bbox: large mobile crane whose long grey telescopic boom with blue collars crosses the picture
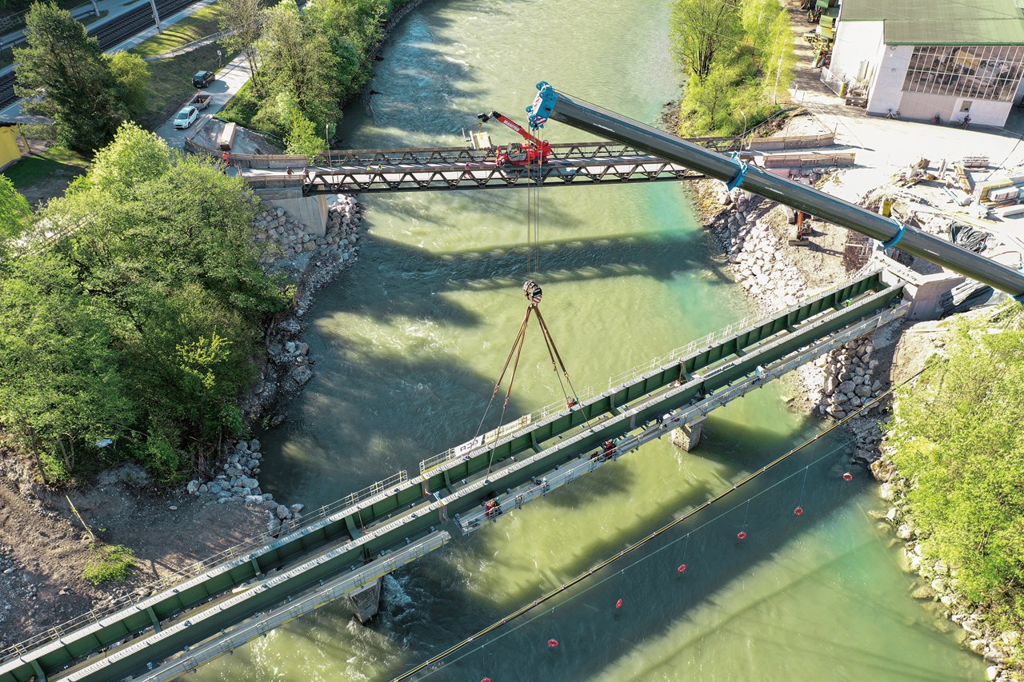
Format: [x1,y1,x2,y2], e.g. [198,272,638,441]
[522,80,1024,308]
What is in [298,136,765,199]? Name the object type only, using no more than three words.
bridge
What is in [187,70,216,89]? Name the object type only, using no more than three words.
car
